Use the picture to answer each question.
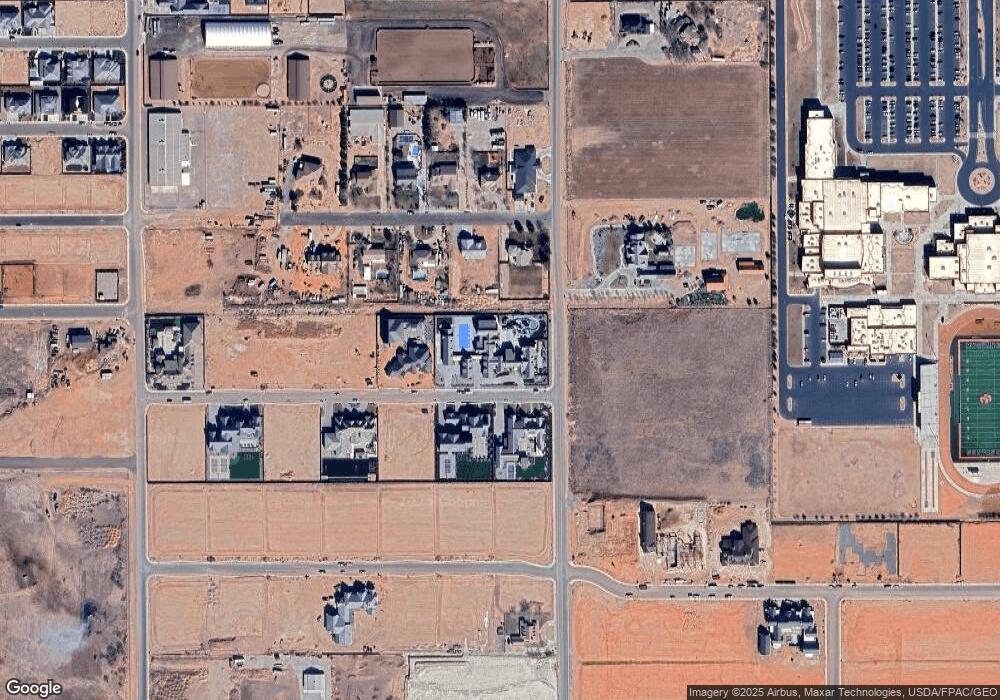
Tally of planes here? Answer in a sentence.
Not a single plane can be seen.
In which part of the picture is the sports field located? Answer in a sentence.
The sports field sits in the right section of the image.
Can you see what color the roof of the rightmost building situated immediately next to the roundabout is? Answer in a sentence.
The roof over the rightmost building situated immediately next to the roundabout appears white.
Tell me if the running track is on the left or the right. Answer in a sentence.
It is on the right.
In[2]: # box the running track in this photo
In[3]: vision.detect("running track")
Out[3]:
[937,302,1000,498]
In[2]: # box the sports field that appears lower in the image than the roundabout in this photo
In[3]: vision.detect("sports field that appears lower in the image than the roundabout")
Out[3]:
[951,336,1000,462]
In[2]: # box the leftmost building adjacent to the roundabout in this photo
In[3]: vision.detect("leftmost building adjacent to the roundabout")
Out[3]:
[799,110,937,287]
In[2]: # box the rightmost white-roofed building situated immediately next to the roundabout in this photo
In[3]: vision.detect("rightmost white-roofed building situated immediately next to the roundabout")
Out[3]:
[929,216,1000,294]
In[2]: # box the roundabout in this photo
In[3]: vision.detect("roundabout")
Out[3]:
[958,156,1000,203]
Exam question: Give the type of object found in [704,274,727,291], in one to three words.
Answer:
barn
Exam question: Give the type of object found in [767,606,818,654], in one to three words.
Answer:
house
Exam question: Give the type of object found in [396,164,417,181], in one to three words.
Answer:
house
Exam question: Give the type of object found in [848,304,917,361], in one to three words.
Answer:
building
